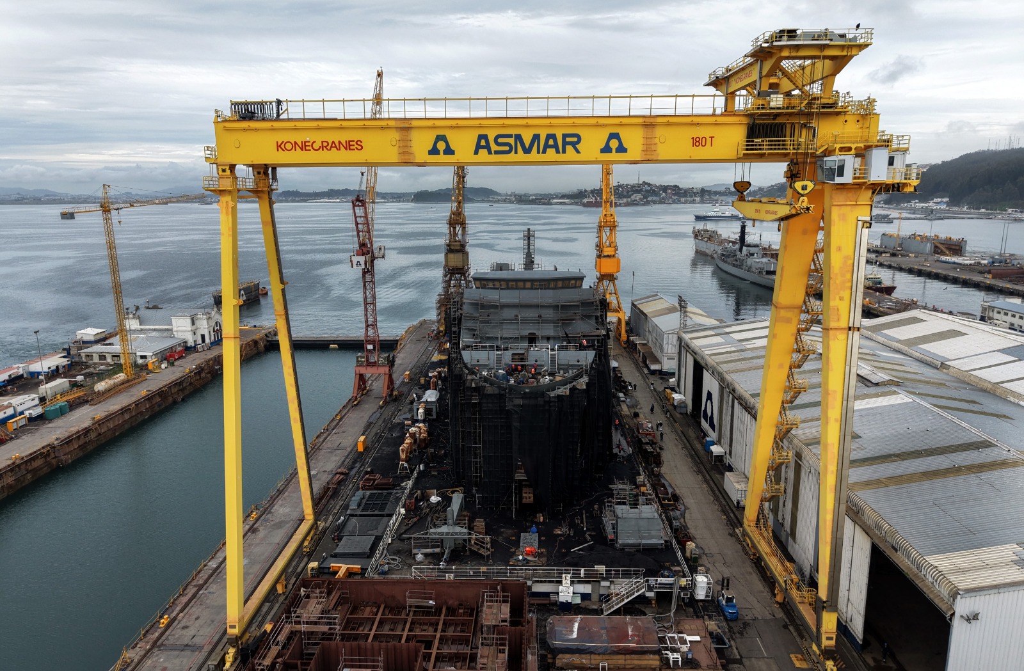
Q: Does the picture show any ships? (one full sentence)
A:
Yes, this view includes a ship.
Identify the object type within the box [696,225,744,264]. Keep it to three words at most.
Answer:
ship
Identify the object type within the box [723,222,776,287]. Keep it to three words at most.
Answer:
ship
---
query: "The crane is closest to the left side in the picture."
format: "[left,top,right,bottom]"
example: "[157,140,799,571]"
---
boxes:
[65,185,206,379]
